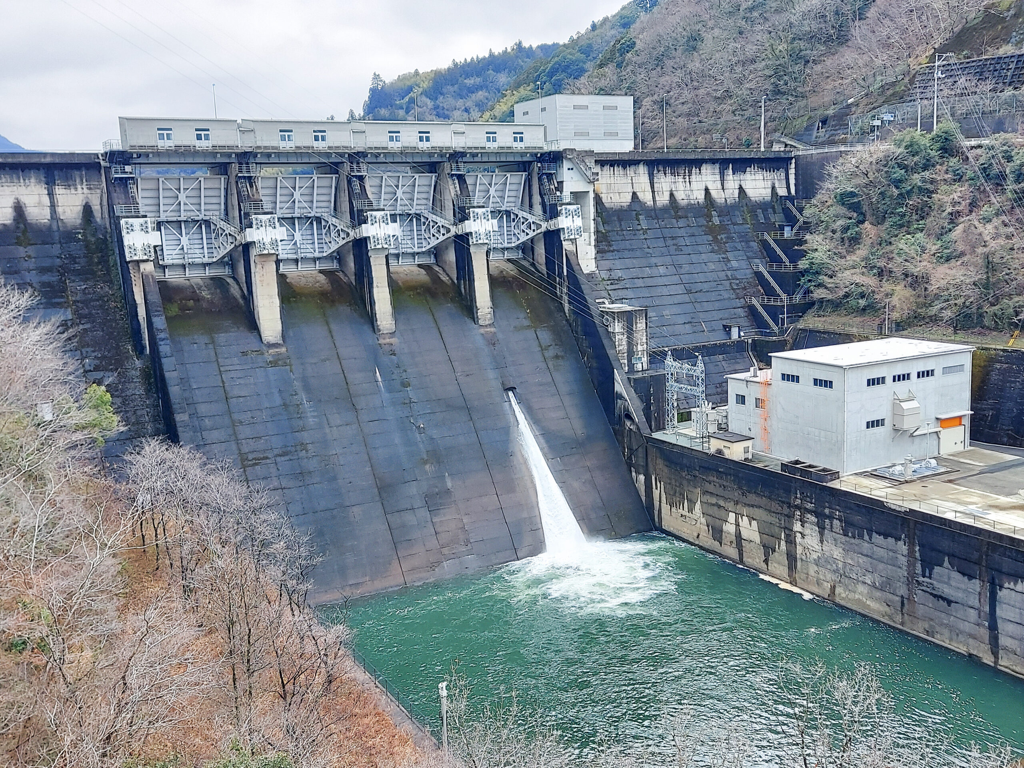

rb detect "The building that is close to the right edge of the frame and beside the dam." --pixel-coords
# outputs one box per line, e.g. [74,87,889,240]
[721,341,982,474]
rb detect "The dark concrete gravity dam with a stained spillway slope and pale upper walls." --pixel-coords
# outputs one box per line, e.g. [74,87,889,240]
[0,150,848,603]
